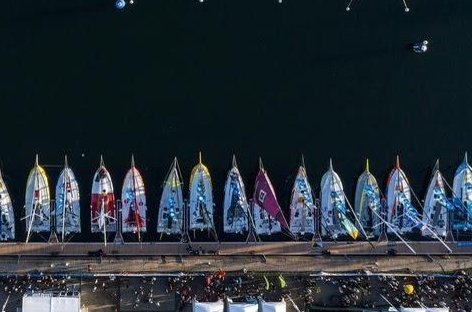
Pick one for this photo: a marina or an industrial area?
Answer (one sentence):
The area seen from above is a marina.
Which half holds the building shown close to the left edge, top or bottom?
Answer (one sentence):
You can find the building shown close to the left edge in the bottom half.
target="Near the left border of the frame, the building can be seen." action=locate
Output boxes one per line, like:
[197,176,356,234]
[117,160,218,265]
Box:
[23,285,80,312]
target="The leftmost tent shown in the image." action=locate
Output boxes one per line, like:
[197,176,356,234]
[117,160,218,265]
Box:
[191,298,223,312]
